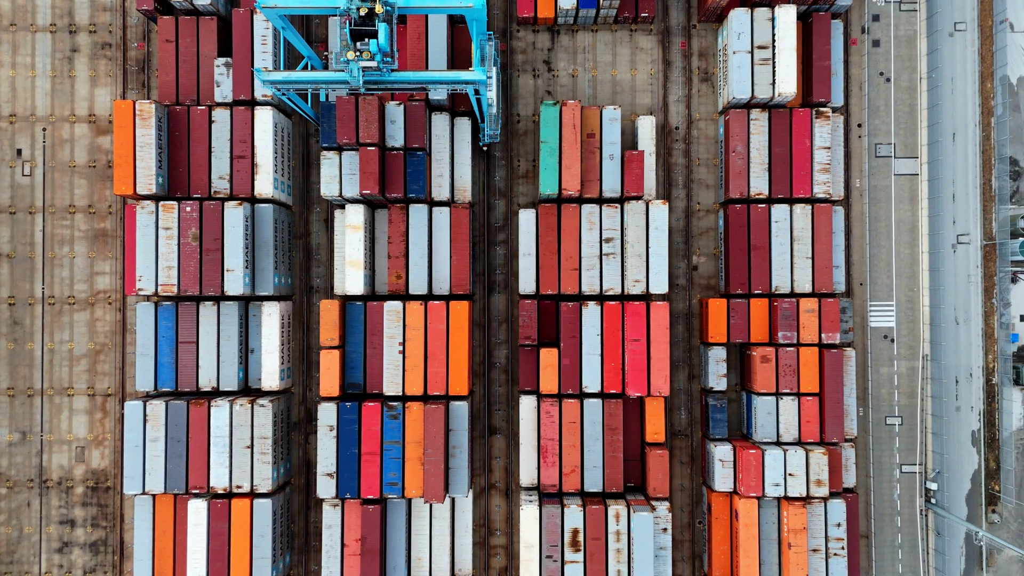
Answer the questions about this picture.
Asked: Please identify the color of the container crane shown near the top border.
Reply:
blue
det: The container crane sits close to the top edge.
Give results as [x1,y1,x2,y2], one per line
[253,0,500,147]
